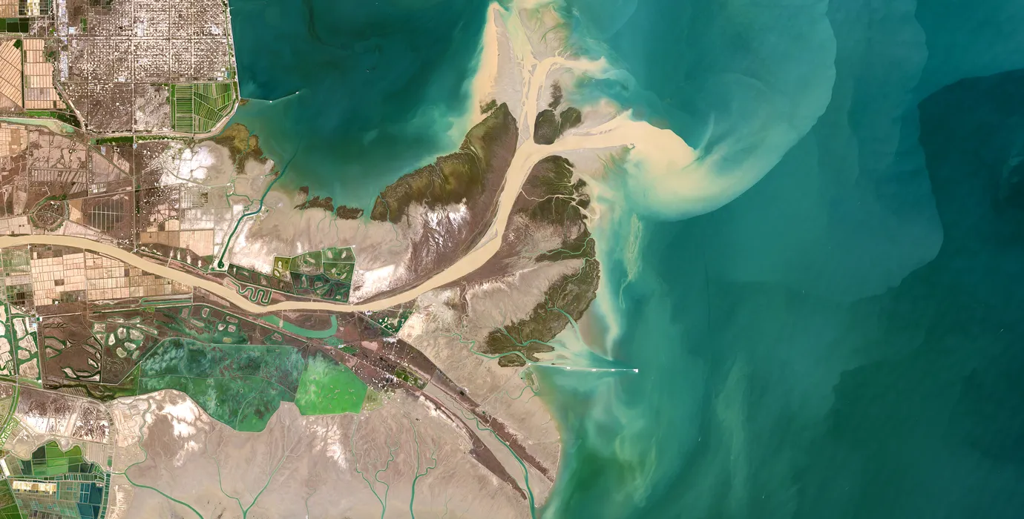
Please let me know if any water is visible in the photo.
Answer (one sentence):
Yes, water can be seen from above here.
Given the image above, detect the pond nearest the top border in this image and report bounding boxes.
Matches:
[138,338,305,433]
